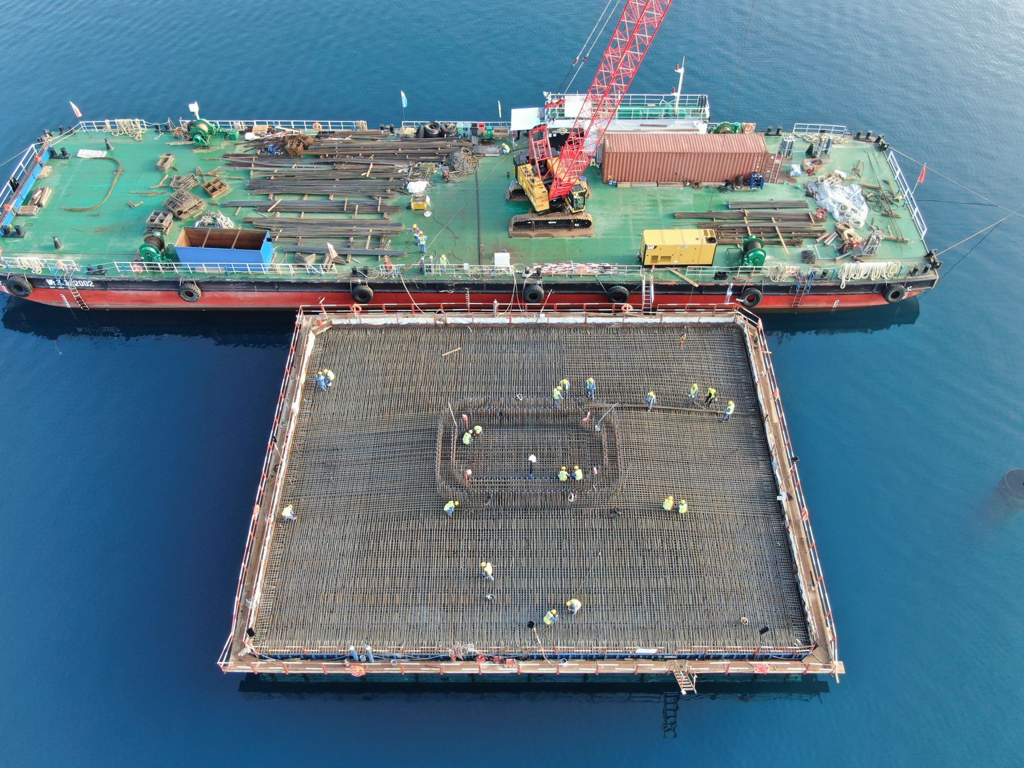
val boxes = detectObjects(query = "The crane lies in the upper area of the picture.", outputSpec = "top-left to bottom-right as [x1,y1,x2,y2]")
[507,0,747,338]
